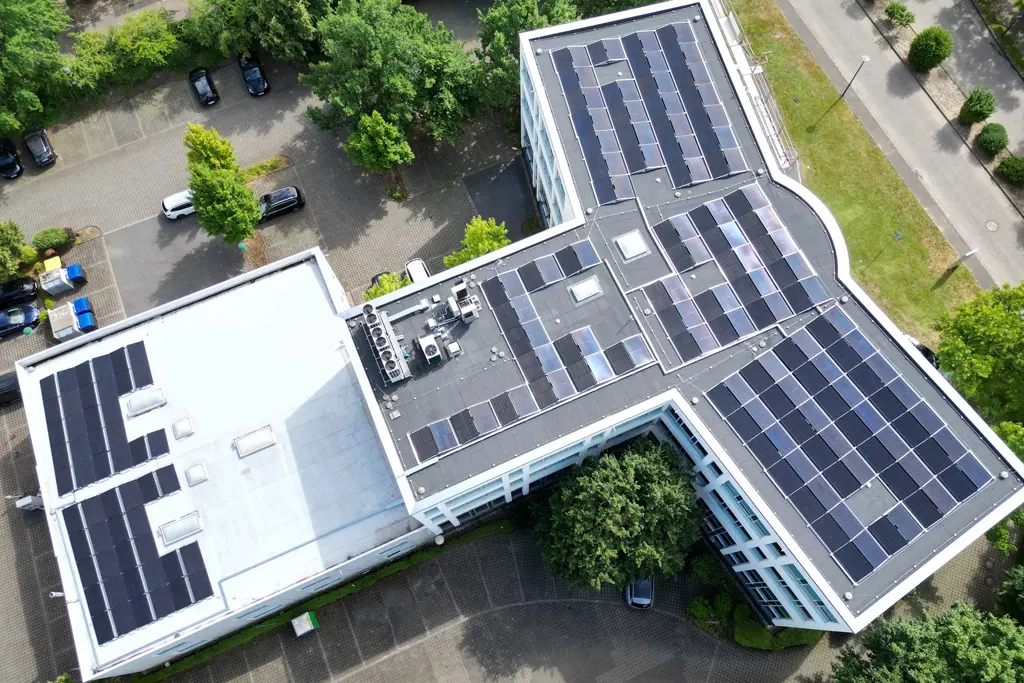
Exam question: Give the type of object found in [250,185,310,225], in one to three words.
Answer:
car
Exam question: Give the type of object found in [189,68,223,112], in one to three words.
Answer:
car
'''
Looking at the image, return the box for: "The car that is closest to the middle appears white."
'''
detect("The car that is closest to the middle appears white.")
[402,253,432,282]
